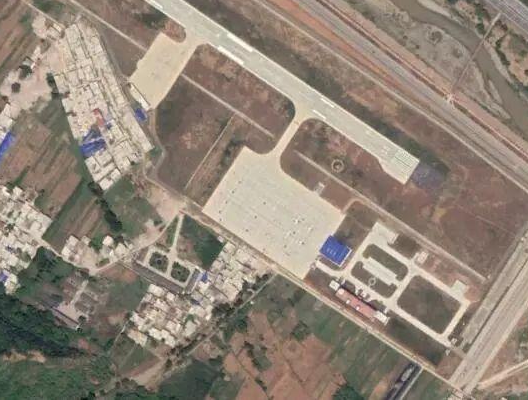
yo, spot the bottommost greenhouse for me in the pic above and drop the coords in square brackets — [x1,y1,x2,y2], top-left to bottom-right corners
[383,365,415,400]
